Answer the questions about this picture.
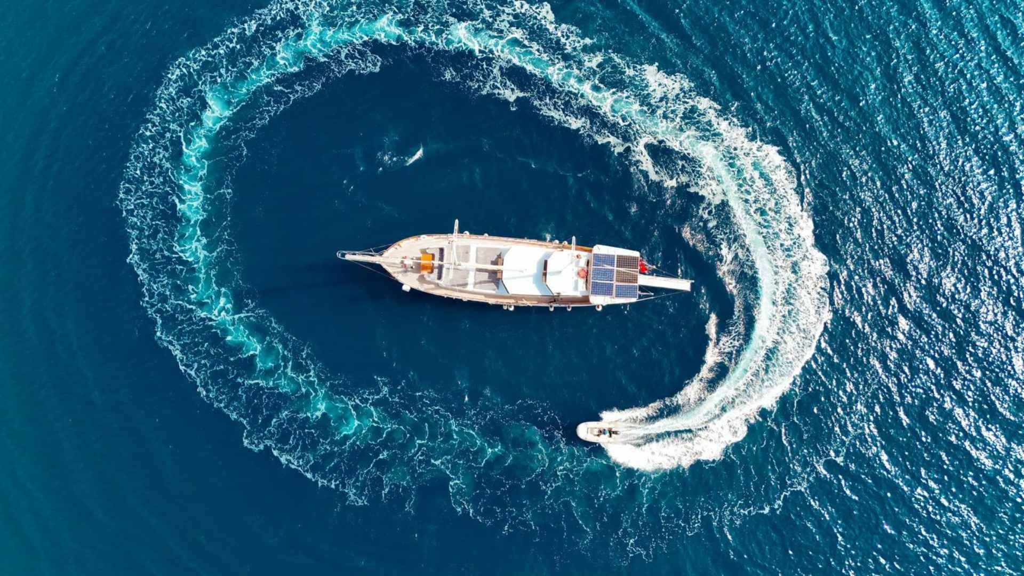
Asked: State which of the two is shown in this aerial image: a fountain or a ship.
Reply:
ship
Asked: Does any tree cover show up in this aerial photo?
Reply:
No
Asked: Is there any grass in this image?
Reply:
No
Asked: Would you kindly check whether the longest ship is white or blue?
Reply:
white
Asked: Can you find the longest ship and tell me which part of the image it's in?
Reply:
center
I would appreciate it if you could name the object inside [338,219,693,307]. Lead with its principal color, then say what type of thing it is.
white ship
